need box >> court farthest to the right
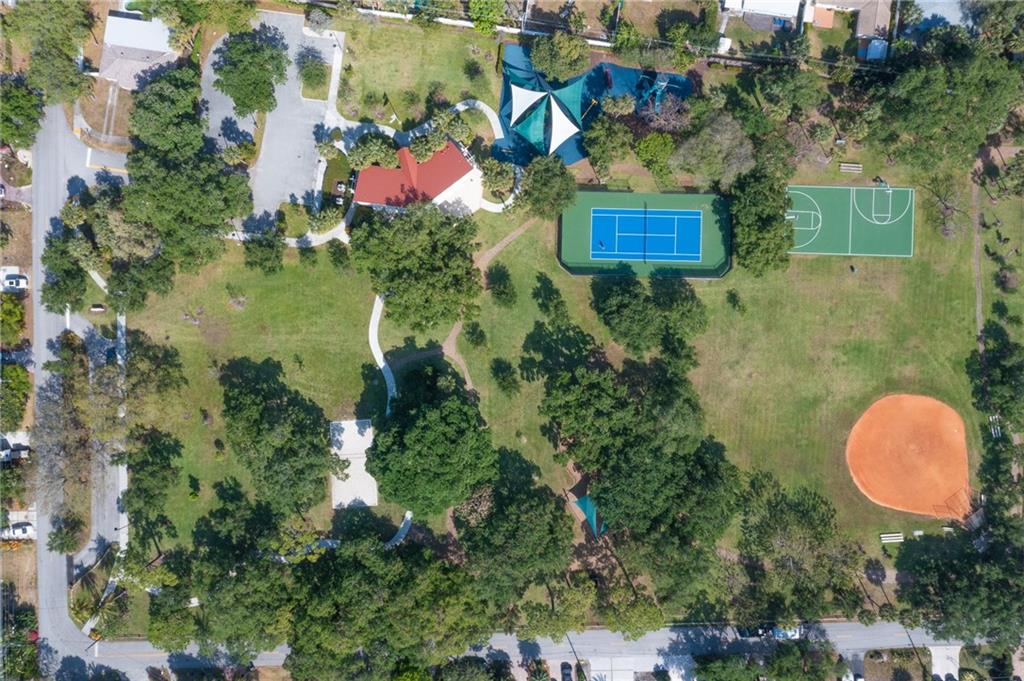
[785,184,916,258]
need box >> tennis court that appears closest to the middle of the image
[558,190,731,277]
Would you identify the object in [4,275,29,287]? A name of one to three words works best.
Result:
vehicle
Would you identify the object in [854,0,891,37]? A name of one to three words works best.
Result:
house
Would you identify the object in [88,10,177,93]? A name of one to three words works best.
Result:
house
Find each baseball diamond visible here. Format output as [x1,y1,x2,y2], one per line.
[847,395,972,521]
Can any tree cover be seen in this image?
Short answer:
Yes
